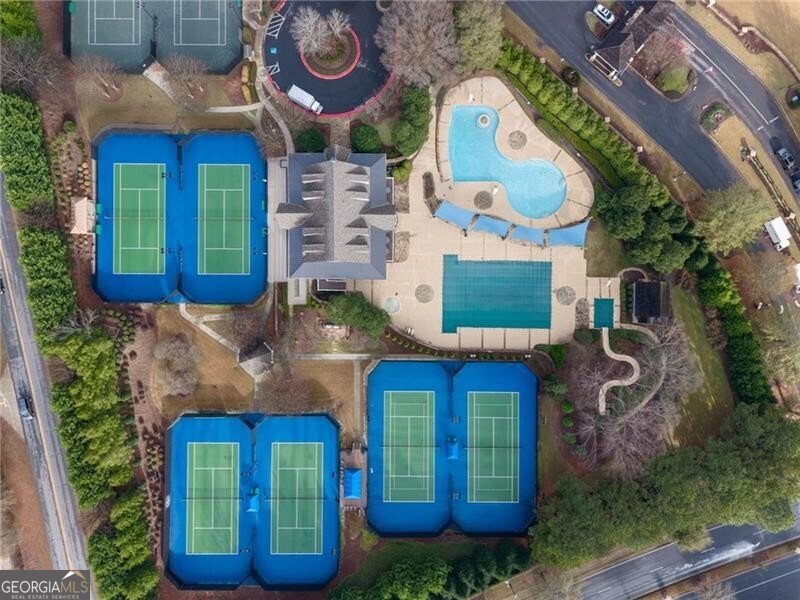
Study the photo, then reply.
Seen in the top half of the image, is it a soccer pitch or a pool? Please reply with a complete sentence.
There is a pool in the top half of the image.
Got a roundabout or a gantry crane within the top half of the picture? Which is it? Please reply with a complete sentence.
You can see a roundabout within the top half of the picture.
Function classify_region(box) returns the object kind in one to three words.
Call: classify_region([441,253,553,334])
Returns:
swimming pool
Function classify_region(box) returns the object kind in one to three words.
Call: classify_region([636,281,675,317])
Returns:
building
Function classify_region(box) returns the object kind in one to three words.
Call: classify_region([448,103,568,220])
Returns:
swimming pool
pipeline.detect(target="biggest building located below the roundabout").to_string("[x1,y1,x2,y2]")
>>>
[276,143,396,291]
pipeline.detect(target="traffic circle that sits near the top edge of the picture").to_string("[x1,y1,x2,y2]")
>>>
[299,17,362,80]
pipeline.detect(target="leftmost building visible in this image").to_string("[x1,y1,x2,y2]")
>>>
[73,194,103,234]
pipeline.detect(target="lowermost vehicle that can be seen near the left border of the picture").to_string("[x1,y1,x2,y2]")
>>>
[18,396,35,420]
